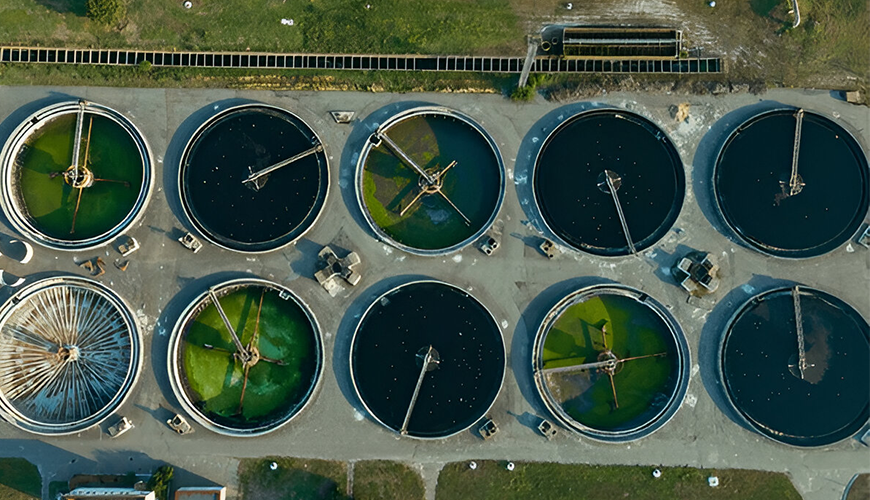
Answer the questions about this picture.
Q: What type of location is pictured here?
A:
industrial area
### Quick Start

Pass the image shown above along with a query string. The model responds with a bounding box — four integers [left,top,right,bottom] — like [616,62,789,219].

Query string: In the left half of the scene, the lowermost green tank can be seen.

[167,278,326,436]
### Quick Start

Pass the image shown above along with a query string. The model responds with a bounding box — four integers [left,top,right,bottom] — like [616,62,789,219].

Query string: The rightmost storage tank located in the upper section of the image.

[714,107,868,260]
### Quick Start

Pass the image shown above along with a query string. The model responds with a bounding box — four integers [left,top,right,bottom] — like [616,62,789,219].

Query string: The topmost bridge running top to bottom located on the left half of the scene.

[73,99,87,178]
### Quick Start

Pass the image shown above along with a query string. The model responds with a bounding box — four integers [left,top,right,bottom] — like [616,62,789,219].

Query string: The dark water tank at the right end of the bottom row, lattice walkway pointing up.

[716,287,870,445]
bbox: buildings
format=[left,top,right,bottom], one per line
[51,485,163,500]
[175,486,227,500]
